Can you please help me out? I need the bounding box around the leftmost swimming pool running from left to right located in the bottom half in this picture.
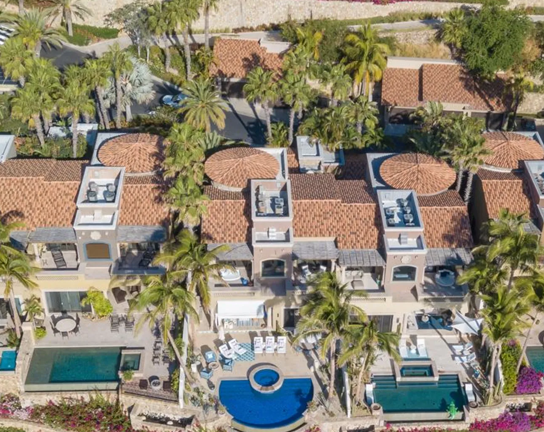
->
[24,344,126,393]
